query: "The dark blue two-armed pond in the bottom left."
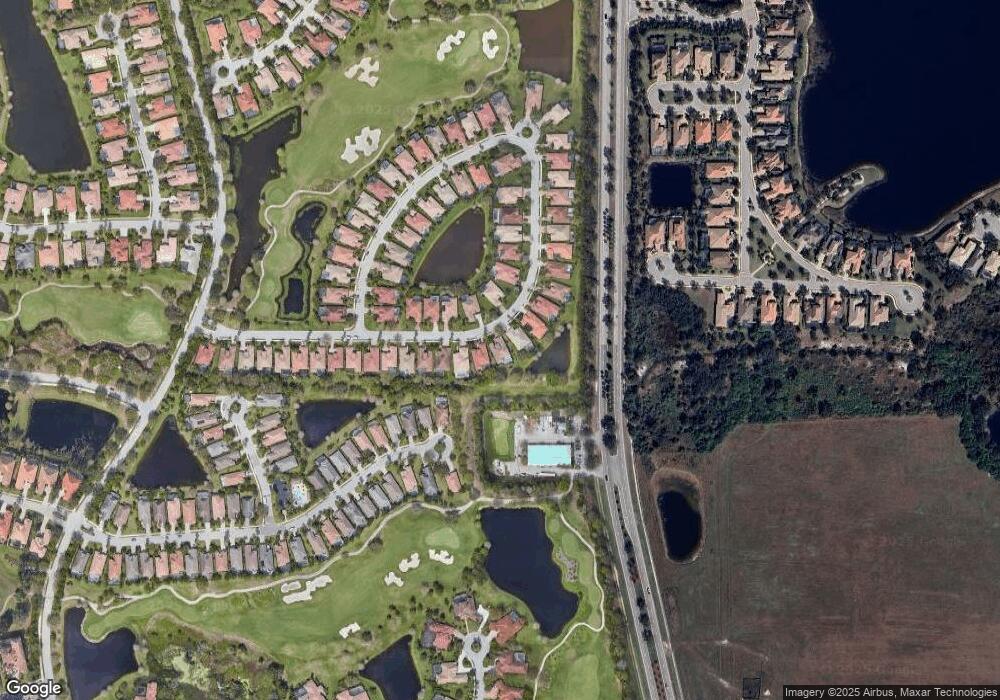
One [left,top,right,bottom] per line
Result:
[62,607,138,700]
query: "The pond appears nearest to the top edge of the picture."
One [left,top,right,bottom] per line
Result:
[515,0,575,83]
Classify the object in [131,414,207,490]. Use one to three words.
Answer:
pond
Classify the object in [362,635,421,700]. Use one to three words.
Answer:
pond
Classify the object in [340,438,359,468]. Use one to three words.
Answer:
house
